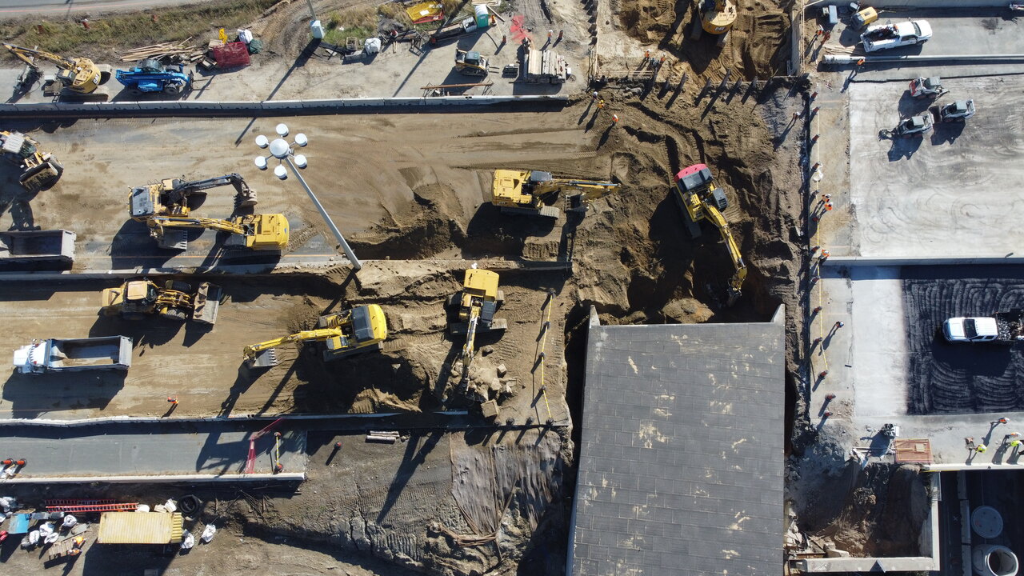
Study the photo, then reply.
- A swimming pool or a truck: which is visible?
truck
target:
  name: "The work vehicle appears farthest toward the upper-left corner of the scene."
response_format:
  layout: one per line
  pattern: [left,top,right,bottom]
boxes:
[0,44,102,103]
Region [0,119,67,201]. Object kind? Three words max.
work vehicle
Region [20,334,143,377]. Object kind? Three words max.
truck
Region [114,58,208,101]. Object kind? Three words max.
work vehicle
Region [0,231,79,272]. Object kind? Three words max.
truck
